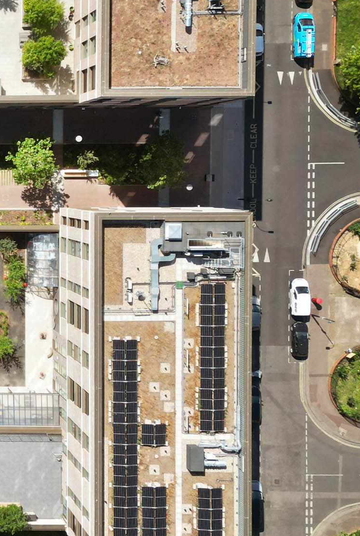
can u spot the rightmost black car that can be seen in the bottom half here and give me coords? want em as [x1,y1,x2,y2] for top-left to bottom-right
[289,321,311,360]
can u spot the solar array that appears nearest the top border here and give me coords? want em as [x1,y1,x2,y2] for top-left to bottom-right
[194,282,229,433]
